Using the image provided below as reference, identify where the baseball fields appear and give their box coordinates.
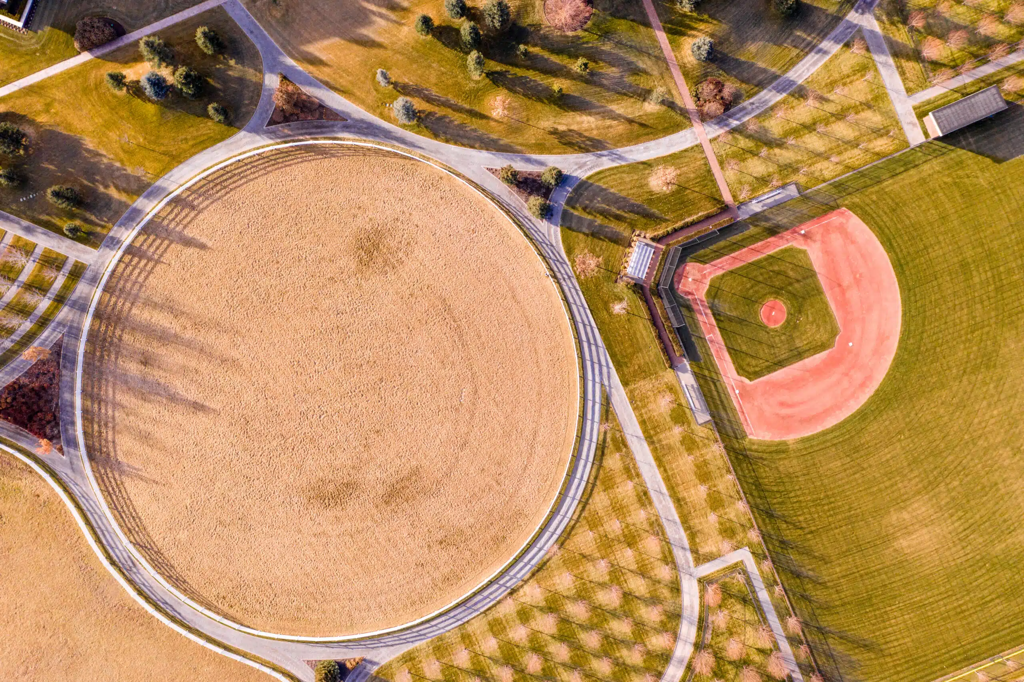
[661,99,1024,682]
